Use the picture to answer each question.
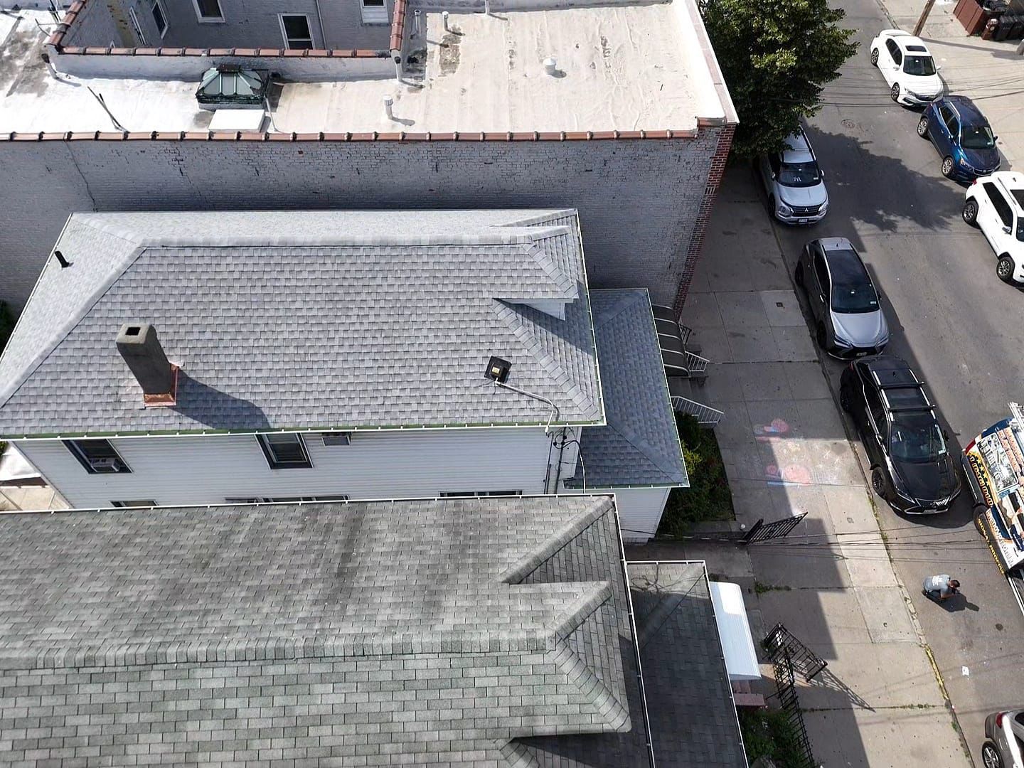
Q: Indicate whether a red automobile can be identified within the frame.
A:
No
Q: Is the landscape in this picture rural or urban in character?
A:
urban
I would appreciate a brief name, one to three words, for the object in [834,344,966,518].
car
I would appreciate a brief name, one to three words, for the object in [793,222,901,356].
car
